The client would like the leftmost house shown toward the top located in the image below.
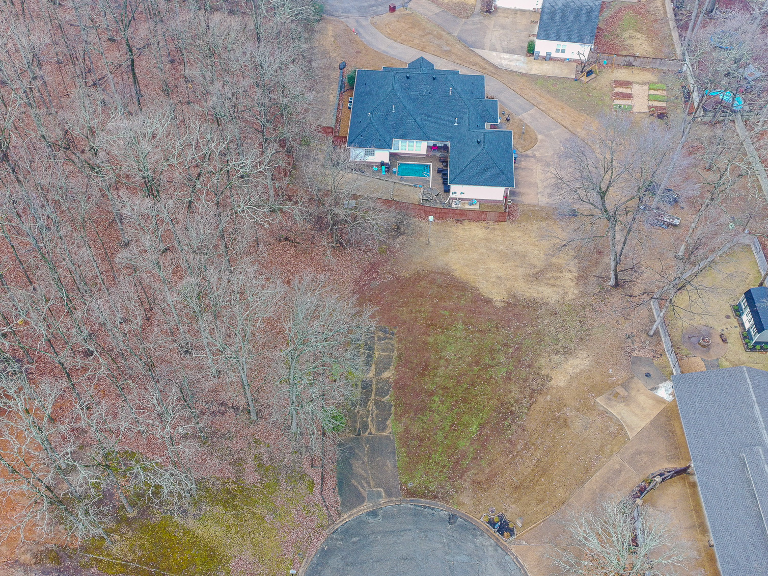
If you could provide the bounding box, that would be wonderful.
[346,59,515,205]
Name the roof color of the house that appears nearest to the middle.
blue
